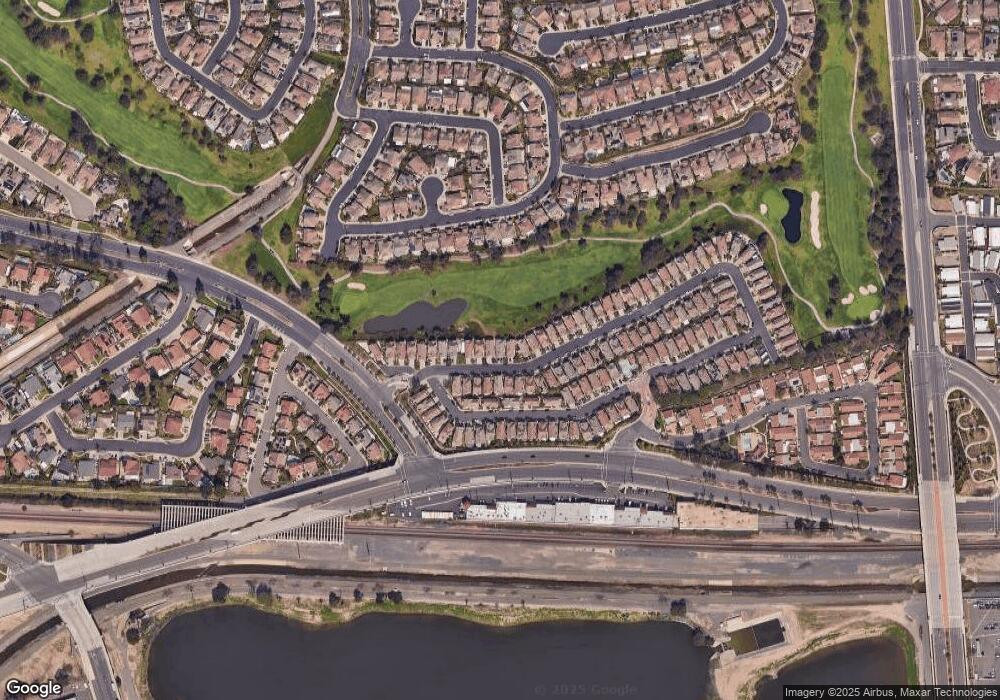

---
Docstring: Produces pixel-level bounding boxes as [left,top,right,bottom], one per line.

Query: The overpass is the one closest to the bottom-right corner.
[919,476,965,624]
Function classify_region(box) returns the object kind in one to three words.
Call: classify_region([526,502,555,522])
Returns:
building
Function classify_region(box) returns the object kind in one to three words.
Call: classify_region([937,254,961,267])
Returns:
house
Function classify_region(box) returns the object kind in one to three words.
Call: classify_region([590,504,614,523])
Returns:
building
